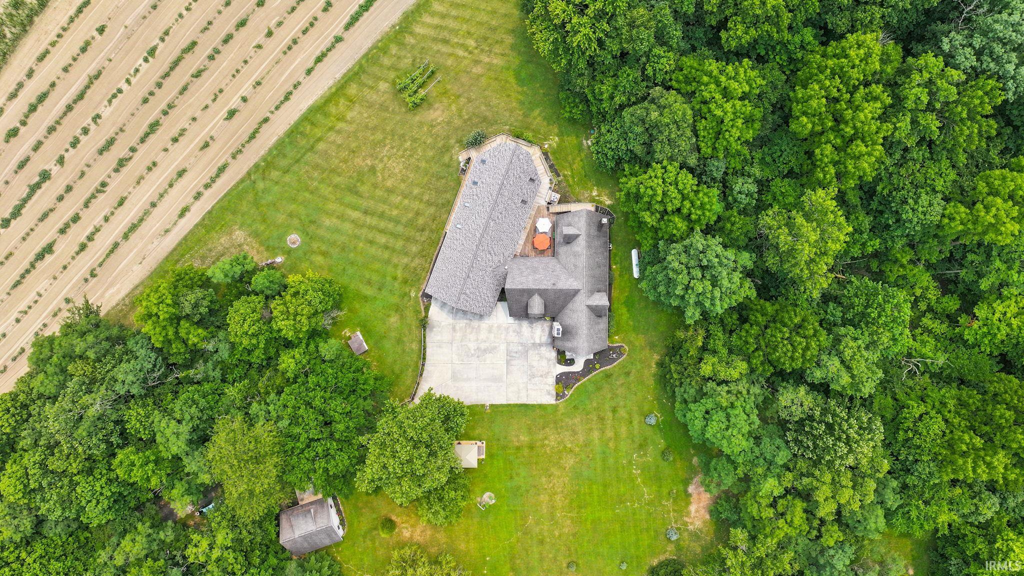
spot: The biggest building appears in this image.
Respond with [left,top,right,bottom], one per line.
[424,143,609,356]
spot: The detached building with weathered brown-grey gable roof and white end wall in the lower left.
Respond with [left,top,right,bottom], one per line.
[280,493,345,556]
